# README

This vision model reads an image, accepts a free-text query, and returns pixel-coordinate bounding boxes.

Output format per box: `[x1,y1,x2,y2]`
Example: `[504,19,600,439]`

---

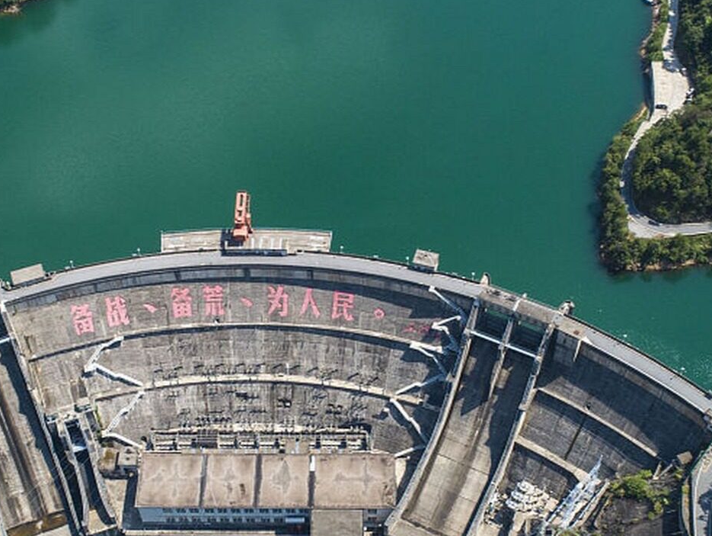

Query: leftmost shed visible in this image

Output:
[10,264,46,292]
